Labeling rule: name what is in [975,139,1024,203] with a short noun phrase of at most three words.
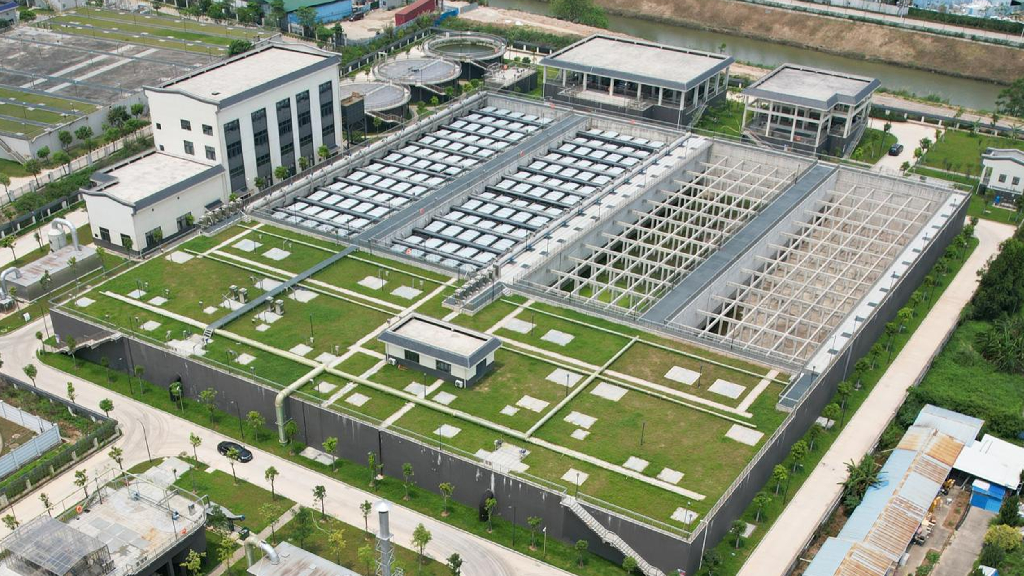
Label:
house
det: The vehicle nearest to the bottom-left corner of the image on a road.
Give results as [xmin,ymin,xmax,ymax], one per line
[215,439,253,460]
